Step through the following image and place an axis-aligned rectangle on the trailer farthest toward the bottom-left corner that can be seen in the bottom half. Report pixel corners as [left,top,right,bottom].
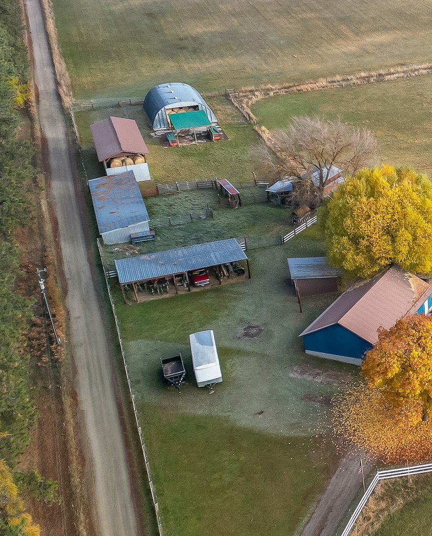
[160,352,188,393]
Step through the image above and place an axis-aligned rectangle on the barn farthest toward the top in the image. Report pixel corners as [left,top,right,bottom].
[147,79,219,130]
